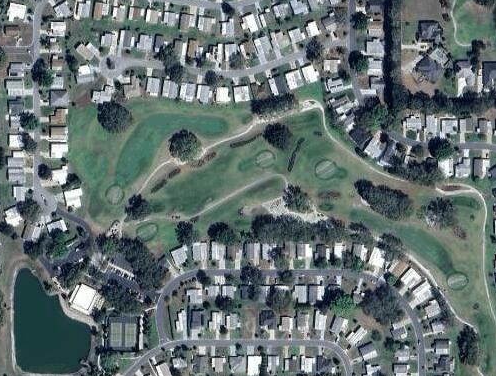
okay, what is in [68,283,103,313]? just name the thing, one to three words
building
